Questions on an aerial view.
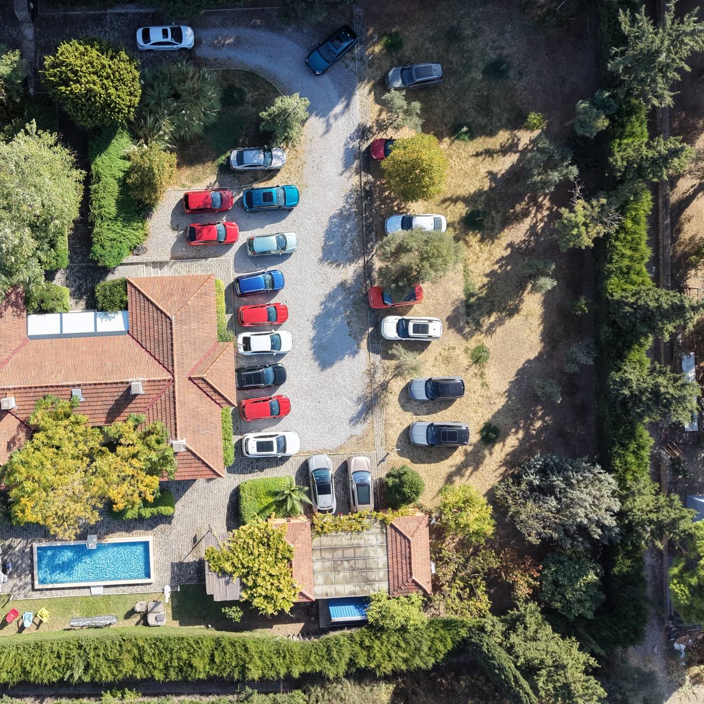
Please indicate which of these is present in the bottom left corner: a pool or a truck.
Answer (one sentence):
What appears in the bottom left corner is a pool.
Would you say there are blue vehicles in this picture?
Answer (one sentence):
Yes, there's a blue vehicle here.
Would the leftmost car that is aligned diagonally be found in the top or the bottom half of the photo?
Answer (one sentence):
The leftmost car that is aligned diagonally is in the top half of the image.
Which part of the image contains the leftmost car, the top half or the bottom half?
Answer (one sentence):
Seen from above, the leftmost car lies in the top half of the view.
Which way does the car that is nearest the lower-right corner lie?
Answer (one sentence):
I'd say the car that is nearest the lower-right corner is aligned horizontally in the picture.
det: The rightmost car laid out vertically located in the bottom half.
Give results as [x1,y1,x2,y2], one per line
[346,453,374,511]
